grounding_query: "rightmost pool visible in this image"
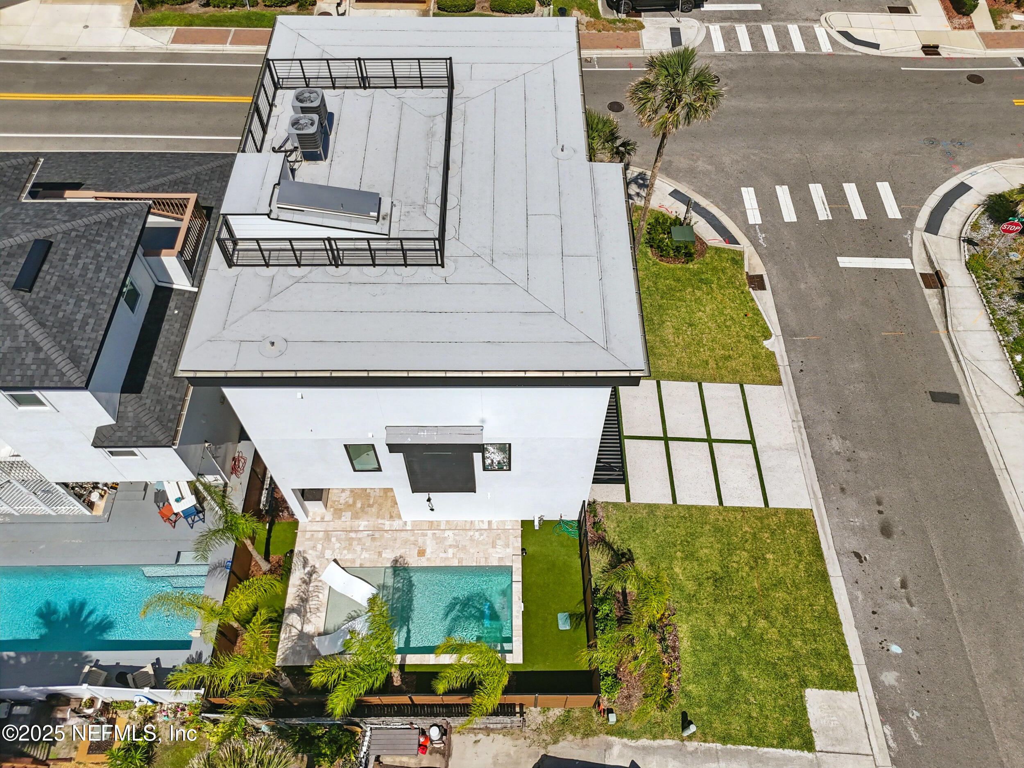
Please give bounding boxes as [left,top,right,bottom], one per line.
[327,566,523,654]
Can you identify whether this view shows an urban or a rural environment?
urban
